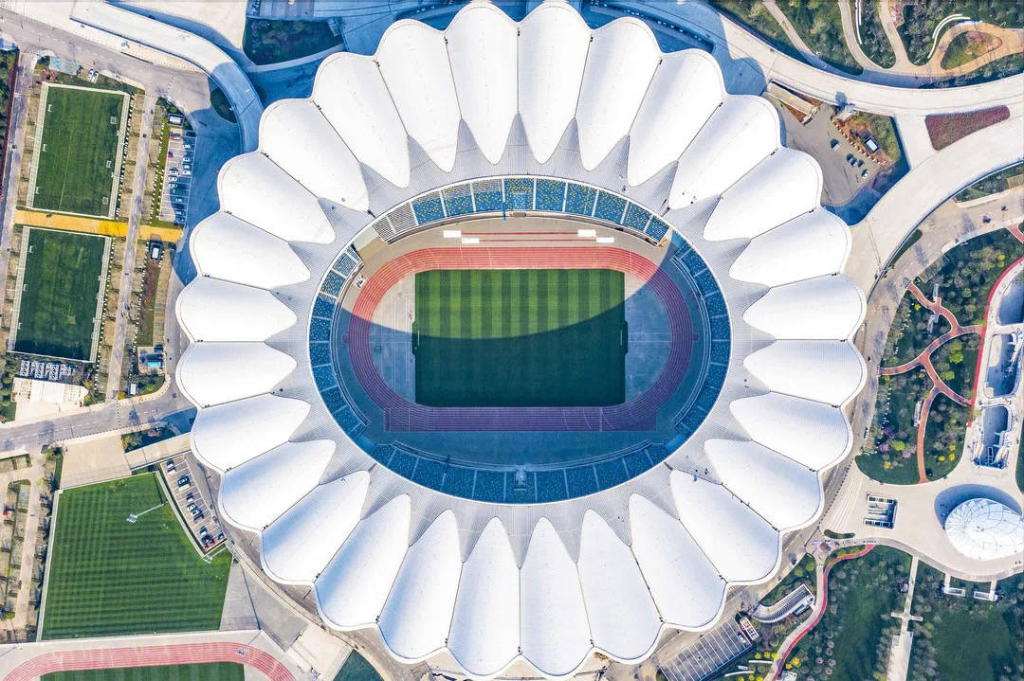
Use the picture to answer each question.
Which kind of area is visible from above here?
sports ground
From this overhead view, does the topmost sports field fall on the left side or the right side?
left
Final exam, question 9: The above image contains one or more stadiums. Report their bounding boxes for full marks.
[175,1,865,680]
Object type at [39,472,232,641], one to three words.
sports field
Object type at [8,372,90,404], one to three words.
building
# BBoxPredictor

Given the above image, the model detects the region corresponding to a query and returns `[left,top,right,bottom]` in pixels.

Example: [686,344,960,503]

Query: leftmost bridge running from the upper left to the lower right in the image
[68,0,265,149]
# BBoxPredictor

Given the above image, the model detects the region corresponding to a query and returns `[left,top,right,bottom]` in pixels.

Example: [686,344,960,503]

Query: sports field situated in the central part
[414,269,628,407]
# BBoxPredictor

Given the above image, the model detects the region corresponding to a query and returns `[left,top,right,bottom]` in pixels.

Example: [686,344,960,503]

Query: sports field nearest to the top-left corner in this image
[23,80,130,219]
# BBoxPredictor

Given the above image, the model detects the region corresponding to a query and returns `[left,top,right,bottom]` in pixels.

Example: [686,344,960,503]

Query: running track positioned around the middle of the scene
[341,248,701,433]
